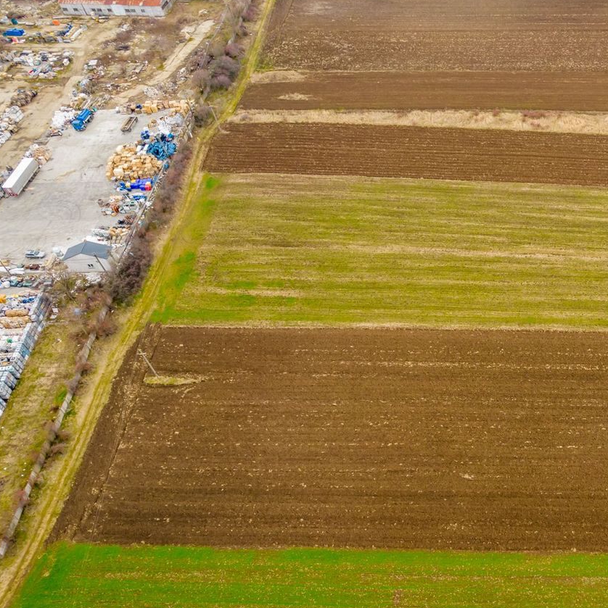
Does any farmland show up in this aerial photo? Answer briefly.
Yes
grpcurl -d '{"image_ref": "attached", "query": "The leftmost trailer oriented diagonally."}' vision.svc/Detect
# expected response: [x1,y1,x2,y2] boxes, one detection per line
[2,157,40,199]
